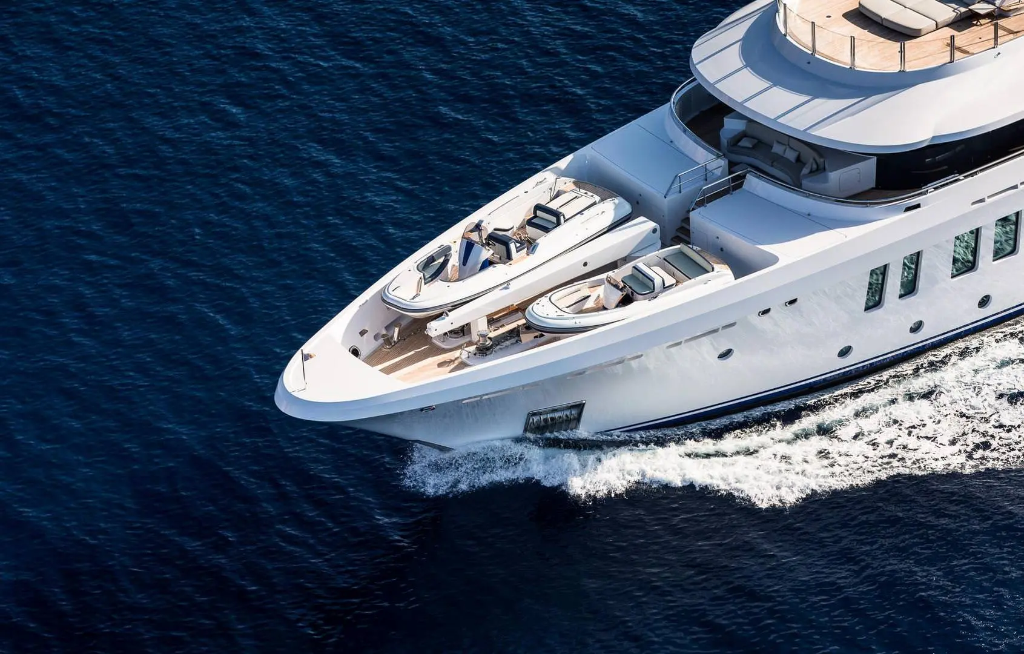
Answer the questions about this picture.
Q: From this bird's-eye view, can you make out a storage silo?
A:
No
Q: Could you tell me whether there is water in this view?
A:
Yes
